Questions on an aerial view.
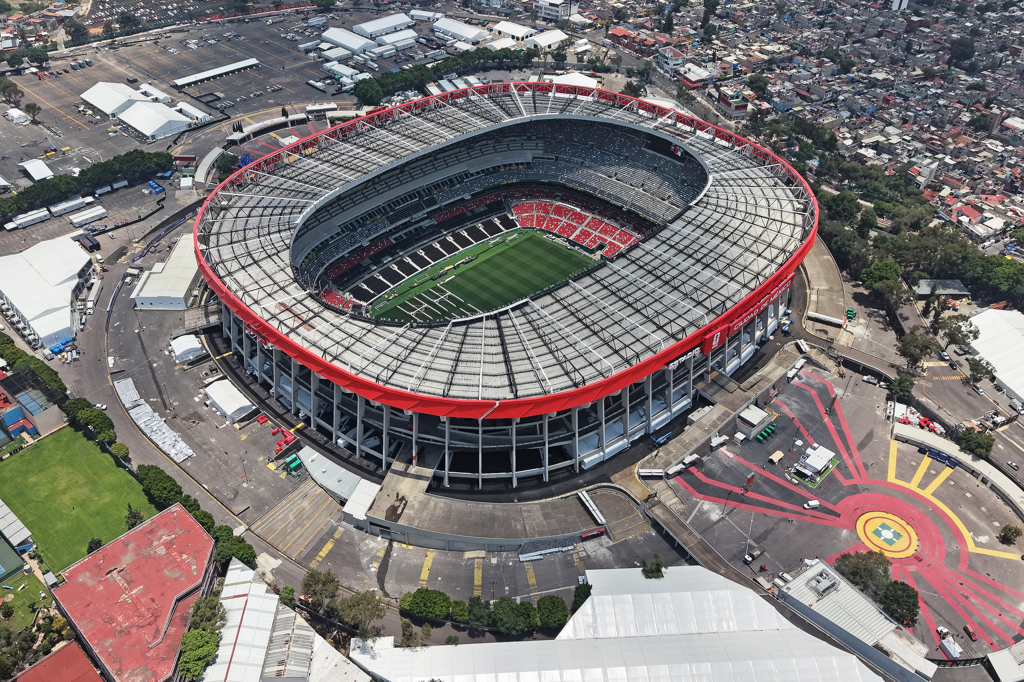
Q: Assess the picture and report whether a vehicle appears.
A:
Yes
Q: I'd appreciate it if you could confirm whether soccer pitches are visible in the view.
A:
Yes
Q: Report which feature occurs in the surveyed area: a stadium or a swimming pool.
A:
stadium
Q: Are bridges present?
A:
Yes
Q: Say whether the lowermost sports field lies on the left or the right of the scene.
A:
left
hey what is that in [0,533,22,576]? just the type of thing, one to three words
tennis court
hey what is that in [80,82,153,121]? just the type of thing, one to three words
tent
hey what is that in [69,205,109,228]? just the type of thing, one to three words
building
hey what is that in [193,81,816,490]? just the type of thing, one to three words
stadium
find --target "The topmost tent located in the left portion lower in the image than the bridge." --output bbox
[173,341,203,368]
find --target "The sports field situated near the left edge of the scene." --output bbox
[0,424,170,574]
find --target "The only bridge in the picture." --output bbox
[184,299,223,332]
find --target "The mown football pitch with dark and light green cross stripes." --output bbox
[379,233,595,325]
